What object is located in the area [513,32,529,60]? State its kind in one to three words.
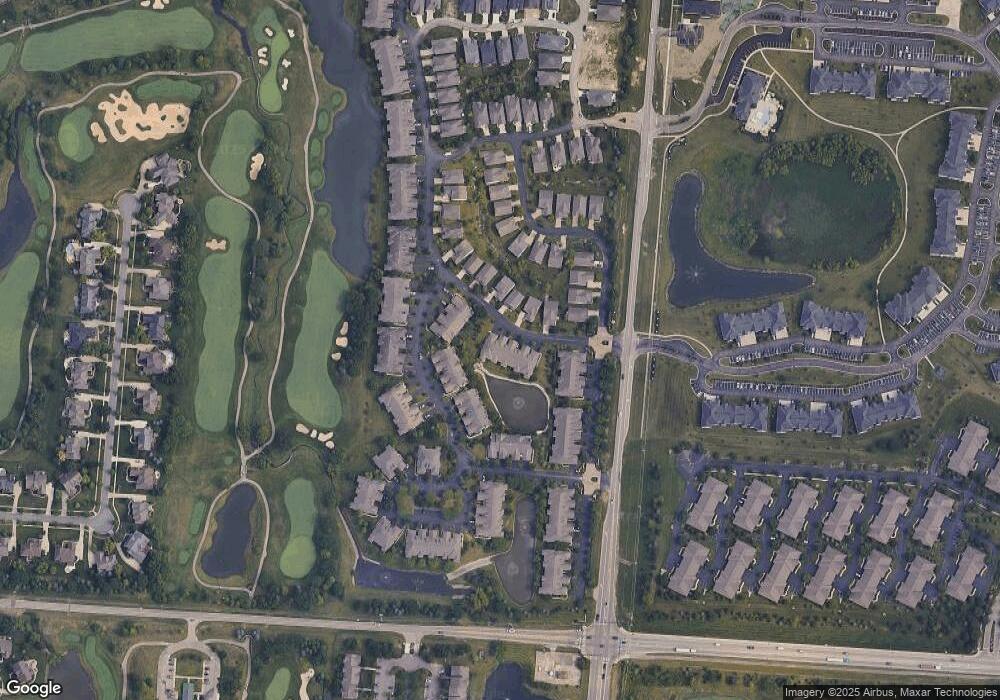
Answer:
house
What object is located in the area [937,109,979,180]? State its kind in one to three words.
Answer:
building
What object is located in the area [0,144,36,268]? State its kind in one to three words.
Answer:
pond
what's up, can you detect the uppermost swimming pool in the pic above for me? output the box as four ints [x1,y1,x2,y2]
[745,92,782,136]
